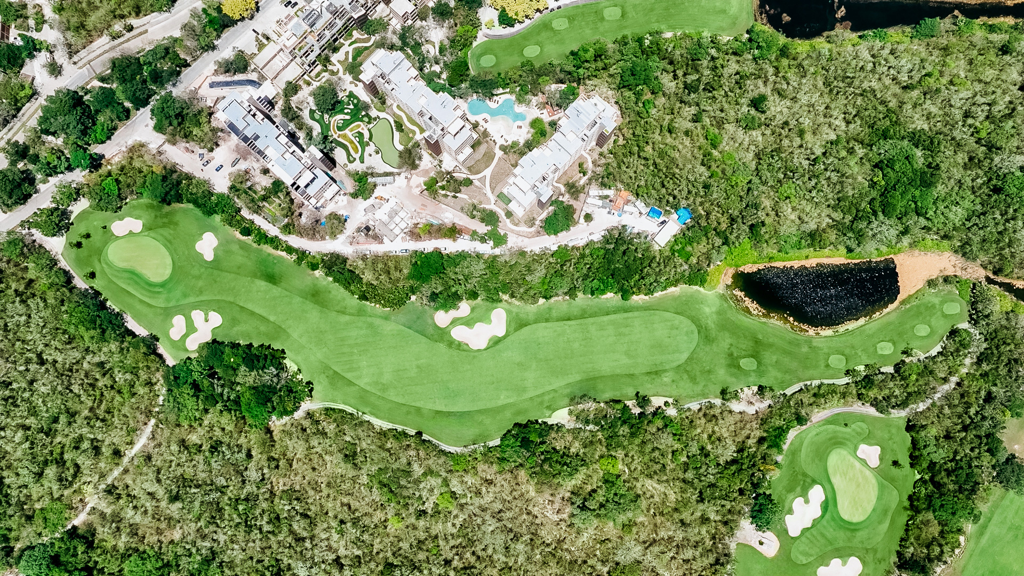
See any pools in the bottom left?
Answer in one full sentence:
No, no pool is visible in the bottom left.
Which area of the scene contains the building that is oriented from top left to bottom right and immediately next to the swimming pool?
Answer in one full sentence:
The building that is oriented from top left to bottom right and immediately next to the swimming pool is in the top part of the image.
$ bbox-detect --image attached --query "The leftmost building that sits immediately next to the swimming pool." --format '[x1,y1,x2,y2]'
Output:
[358,49,482,168]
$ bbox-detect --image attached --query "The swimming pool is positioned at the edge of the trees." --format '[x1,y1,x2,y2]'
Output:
[467,97,527,132]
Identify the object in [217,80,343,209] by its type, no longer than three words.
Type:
building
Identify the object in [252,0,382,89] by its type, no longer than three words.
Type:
building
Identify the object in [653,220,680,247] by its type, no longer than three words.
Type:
shed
